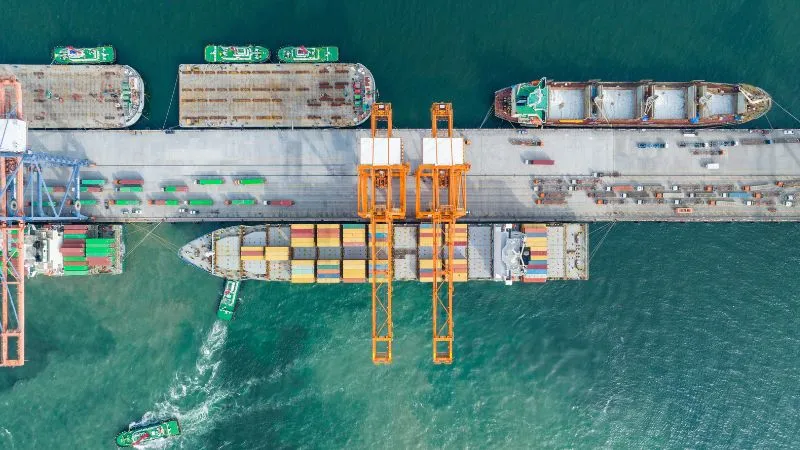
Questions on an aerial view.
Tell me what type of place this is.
port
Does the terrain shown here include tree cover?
No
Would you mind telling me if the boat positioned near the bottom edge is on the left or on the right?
left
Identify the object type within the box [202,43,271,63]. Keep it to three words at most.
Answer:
boat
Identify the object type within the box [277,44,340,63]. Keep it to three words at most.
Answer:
boat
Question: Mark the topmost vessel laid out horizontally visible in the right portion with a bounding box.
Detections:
[495,77,773,128]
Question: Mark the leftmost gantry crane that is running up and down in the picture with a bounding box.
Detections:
[0,77,94,367]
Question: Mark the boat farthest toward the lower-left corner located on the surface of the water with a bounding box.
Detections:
[113,417,182,447]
